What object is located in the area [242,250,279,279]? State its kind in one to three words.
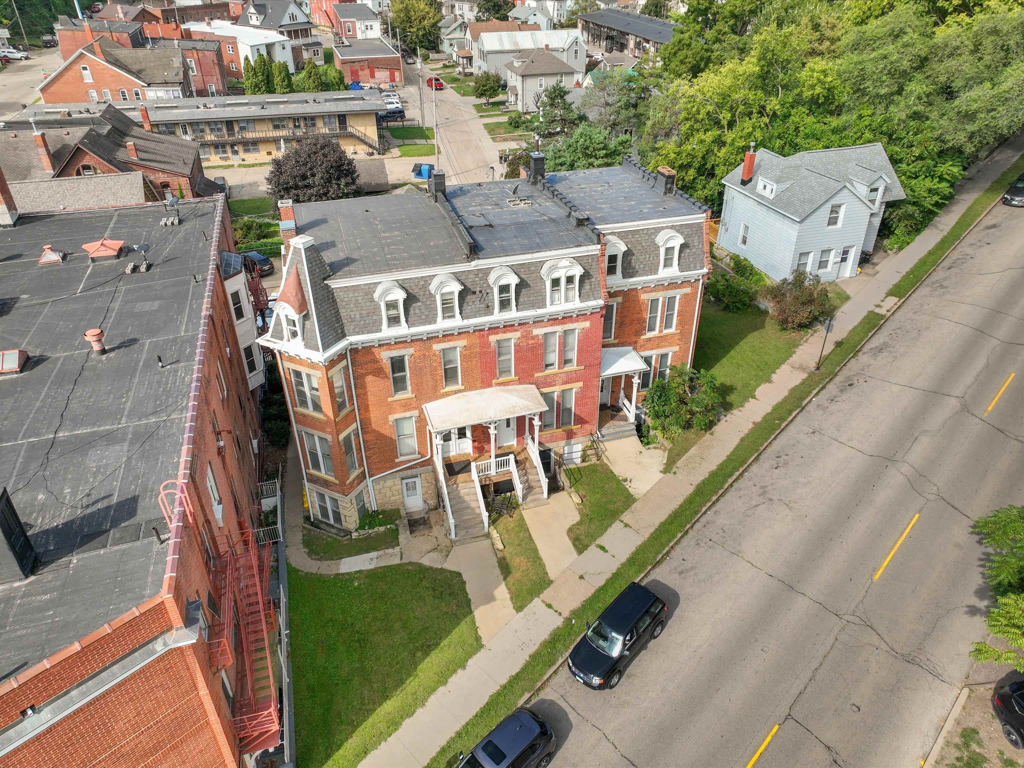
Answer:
car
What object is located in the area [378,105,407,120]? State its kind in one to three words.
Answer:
car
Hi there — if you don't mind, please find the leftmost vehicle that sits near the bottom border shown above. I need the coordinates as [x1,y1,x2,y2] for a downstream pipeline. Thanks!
[448,696,557,768]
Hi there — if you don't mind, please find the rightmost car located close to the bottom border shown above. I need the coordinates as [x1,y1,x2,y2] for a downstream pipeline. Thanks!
[992,680,1024,758]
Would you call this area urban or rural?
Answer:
urban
